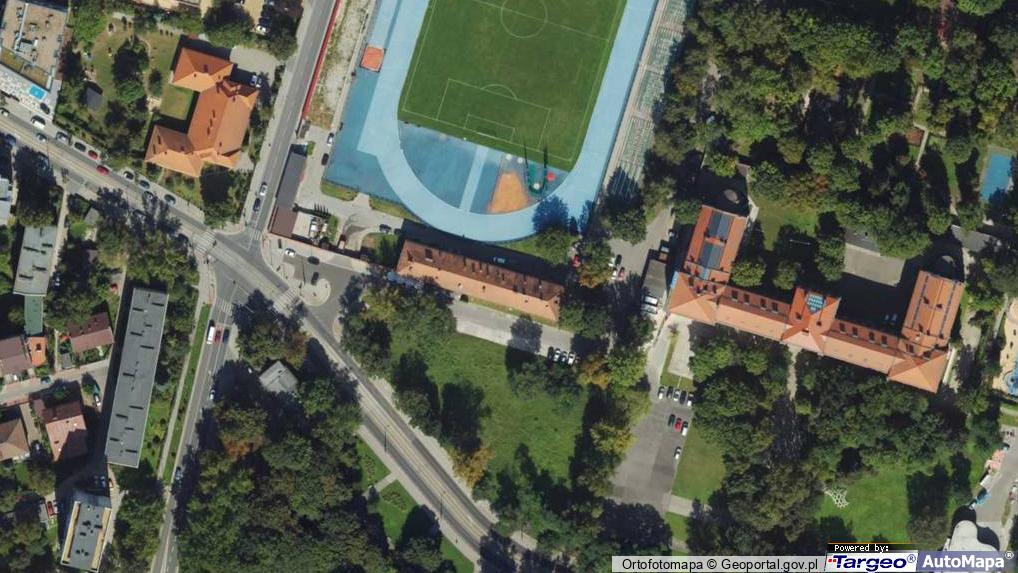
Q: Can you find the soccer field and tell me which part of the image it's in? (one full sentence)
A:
The soccer field sits in the top section of the image.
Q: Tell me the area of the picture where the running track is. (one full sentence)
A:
Look in the top portion of the view to spot the running track.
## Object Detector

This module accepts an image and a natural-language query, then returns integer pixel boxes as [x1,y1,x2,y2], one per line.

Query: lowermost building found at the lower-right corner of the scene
[947,519,1003,573]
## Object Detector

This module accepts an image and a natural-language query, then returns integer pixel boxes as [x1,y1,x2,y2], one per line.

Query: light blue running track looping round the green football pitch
[322,0,655,244]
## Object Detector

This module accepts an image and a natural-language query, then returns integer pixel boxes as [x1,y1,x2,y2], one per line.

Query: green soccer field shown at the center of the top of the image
[396,0,626,172]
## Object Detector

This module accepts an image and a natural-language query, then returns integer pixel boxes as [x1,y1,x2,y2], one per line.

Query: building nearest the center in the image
[398,240,564,320]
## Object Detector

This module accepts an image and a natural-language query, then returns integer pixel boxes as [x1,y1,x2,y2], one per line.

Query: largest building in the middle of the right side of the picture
[668,207,965,393]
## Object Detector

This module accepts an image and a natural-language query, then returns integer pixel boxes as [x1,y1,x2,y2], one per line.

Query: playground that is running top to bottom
[993,303,1018,397]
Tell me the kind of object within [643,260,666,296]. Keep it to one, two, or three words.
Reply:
shed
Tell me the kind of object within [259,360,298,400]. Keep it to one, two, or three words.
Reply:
house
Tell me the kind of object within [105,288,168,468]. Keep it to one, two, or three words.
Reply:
building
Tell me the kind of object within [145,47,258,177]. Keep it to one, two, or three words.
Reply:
house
